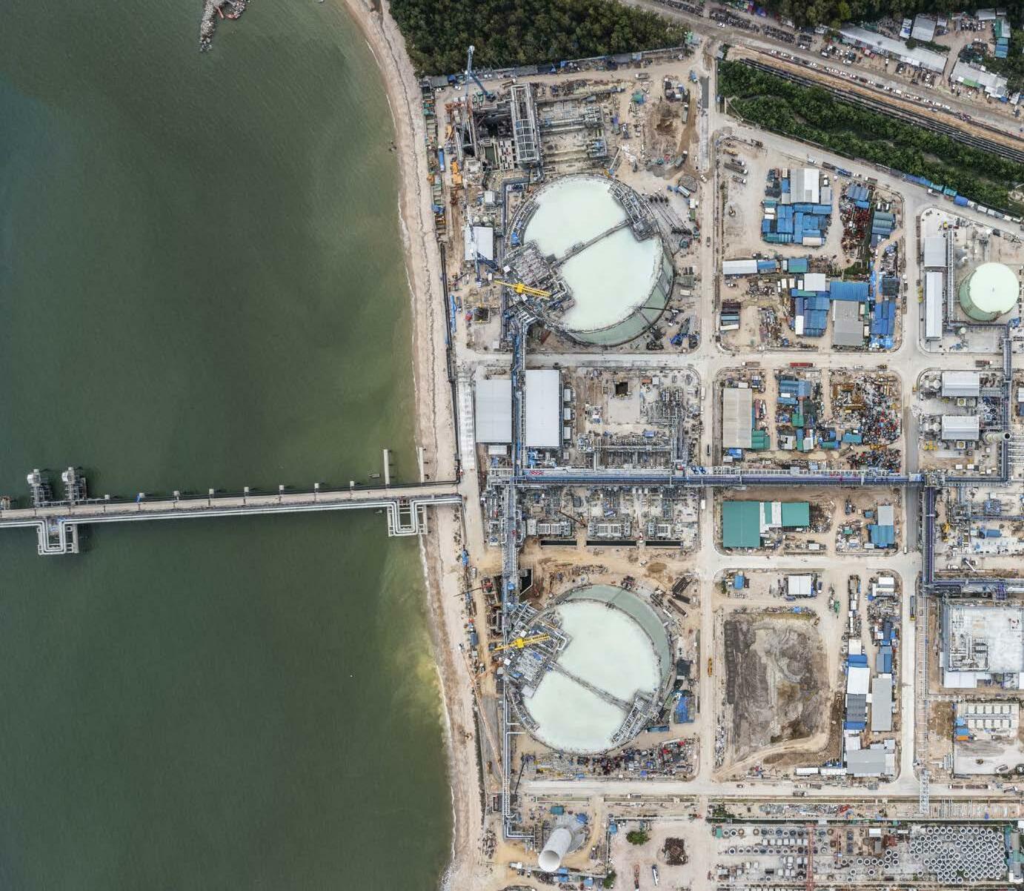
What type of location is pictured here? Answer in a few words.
industrial area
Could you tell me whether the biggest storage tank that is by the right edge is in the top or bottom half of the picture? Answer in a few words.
top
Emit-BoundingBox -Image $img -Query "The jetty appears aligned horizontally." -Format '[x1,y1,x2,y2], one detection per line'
[0,484,461,555]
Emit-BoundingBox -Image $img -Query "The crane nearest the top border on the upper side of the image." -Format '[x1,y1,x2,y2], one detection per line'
[460,45,496,161]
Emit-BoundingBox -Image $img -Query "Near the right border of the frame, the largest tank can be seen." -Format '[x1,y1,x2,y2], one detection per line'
[960,263,1023,322]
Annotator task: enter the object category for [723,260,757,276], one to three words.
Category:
shed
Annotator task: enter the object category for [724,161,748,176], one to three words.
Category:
vehicle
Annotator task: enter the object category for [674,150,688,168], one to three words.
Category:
vehicle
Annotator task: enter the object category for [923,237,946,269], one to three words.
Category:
building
